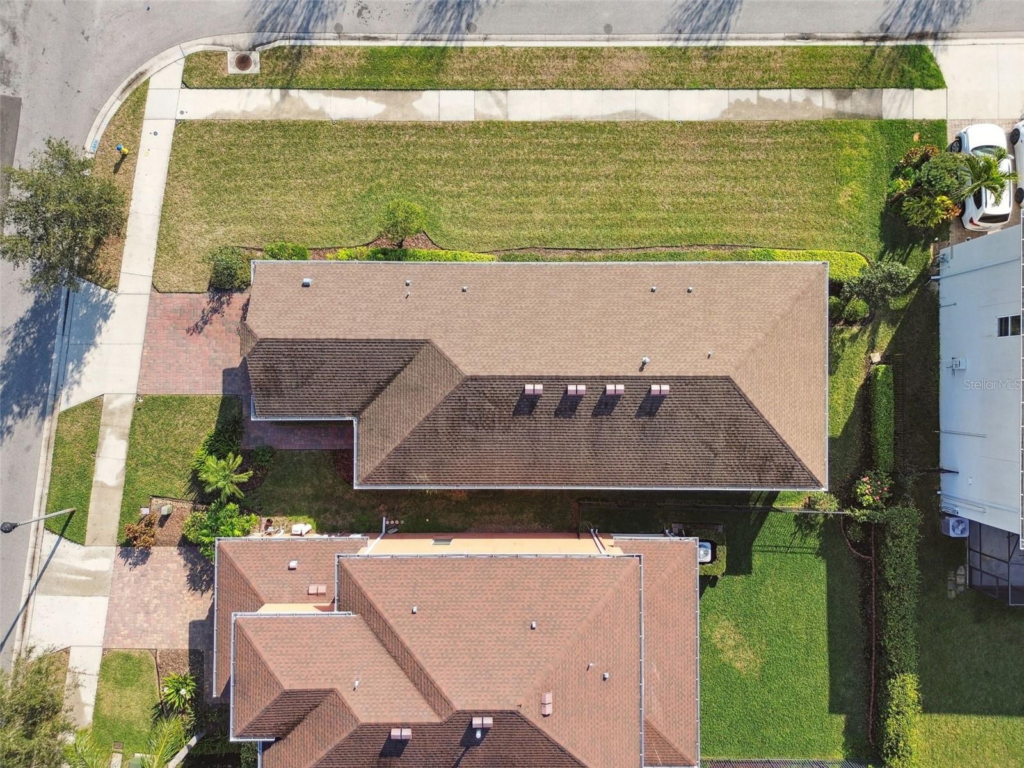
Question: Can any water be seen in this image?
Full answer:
No, there is no water in the image.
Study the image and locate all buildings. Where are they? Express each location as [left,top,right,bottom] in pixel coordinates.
[932,209,1024,551]
[238,261,829,490]
[215,518,699,768]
